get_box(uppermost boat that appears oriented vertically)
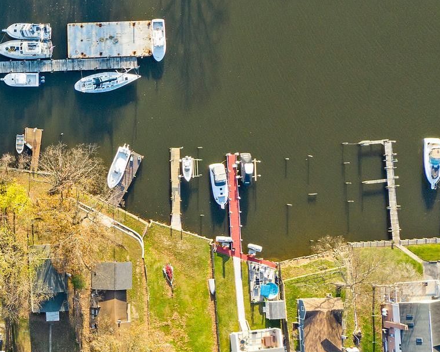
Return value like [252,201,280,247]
[151,20,165,62]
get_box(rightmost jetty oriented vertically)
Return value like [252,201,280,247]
[379,138,404,244]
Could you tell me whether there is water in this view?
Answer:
Yes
